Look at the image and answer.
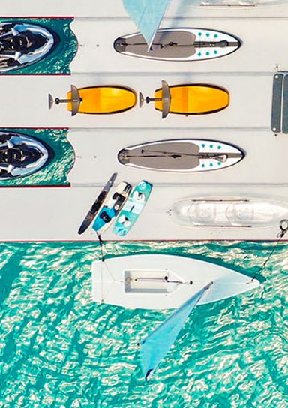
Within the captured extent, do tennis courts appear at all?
No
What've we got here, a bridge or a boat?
boat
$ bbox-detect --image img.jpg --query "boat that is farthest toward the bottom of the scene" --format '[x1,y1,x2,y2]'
[91,254,261,379]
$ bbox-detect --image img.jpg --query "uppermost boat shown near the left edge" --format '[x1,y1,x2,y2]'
[0,27,61,74]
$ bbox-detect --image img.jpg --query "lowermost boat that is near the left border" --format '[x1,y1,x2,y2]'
[0,136,55,183]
